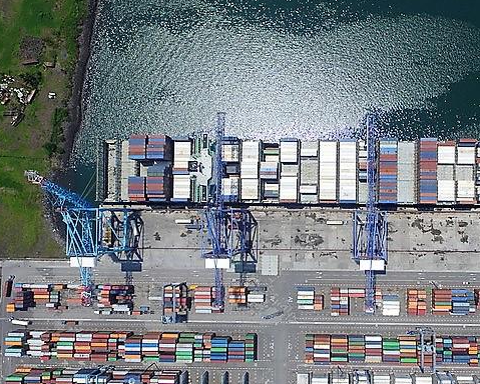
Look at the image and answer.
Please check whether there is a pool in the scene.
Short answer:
No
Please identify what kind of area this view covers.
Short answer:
port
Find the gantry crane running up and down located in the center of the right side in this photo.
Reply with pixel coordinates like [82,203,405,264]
[346,112,388,312]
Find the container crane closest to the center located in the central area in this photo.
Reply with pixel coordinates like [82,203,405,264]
[203,111,253,311]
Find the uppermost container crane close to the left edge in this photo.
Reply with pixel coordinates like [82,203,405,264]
[19,169,138,310]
